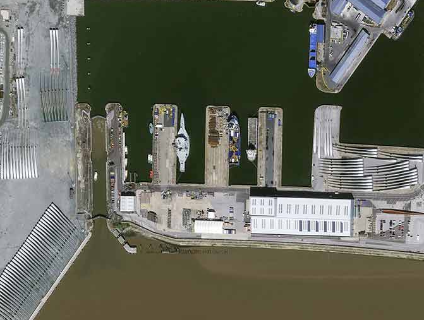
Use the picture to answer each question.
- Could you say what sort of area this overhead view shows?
port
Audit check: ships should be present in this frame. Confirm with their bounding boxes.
[229,114,239,164]
[308,25,317,78]
[122,113,129,124]
[249,117,257,149]
[175,113,189,172]
[388,9,412,39]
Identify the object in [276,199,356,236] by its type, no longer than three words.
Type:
building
